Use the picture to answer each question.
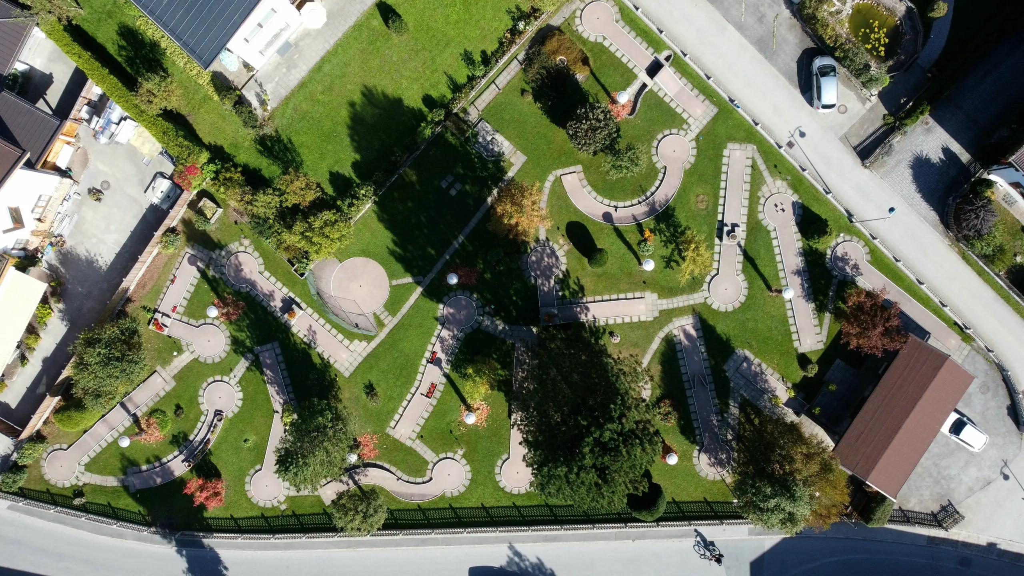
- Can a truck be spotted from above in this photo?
No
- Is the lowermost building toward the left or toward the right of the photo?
right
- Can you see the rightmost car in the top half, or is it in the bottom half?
bottom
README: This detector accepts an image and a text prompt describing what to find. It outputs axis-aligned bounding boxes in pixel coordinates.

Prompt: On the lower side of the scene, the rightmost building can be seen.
[834,333,976,502]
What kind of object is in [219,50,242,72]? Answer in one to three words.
umbrella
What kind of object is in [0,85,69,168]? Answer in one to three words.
shed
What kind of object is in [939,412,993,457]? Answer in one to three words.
car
